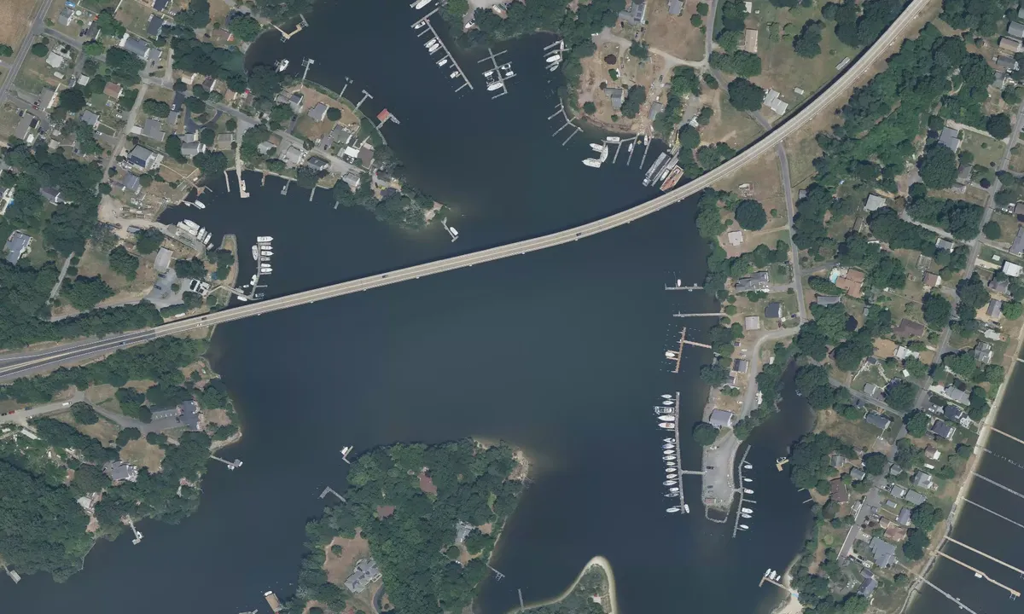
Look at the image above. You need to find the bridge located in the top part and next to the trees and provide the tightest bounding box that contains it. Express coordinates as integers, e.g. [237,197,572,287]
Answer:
[158,0,929,338]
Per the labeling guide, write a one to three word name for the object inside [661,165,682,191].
ship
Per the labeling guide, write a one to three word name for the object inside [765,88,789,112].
house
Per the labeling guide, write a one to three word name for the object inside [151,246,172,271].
shed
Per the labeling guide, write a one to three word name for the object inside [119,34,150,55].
house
